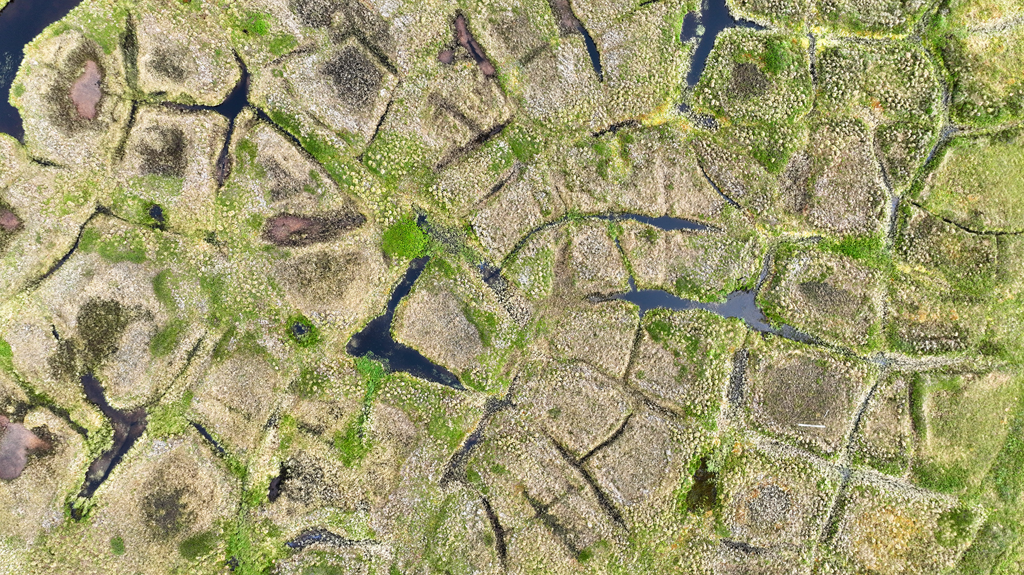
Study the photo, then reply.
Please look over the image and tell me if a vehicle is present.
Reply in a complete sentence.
No, no vehicle is visible in the scene.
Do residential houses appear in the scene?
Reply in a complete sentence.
No, I can't see a single residential house in this photo.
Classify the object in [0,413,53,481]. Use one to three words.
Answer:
pond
